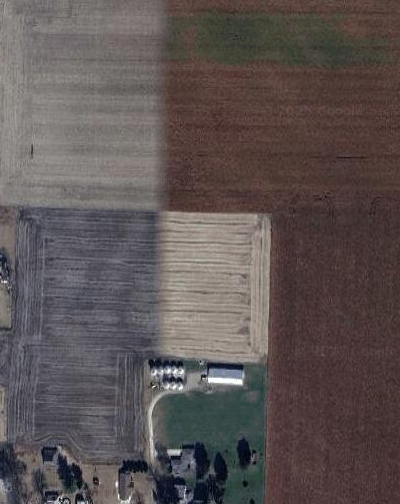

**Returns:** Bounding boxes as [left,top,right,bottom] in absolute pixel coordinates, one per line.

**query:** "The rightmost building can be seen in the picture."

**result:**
[208,366,244,385]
